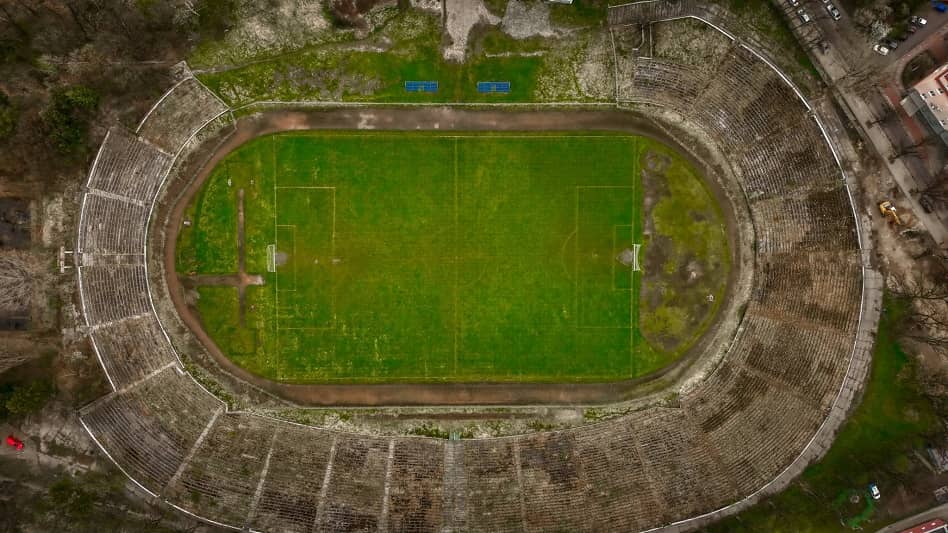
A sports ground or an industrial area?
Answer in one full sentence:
It's a sports ground.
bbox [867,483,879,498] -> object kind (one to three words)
vehicle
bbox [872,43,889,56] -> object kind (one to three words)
vehicle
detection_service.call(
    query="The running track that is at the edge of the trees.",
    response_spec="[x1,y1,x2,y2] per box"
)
[165,107,742,406]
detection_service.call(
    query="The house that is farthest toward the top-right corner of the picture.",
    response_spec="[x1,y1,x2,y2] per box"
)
[900,60,948,153]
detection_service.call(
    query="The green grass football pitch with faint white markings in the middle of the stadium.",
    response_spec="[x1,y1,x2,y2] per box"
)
[274,136,635,378]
